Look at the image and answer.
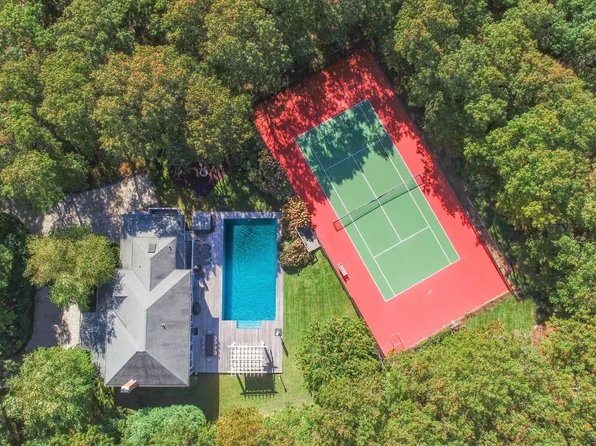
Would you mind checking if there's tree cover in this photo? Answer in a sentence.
Yes, the picture does contain tree cover.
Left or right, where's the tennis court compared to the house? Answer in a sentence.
In the image, the tennis court sits on the right side of the house.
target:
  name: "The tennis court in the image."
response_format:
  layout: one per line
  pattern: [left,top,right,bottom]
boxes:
[249,44,509,360]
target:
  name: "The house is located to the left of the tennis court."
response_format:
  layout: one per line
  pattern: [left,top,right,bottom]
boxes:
[81,206,198,392]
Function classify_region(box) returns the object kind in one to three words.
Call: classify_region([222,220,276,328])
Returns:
swimming pool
